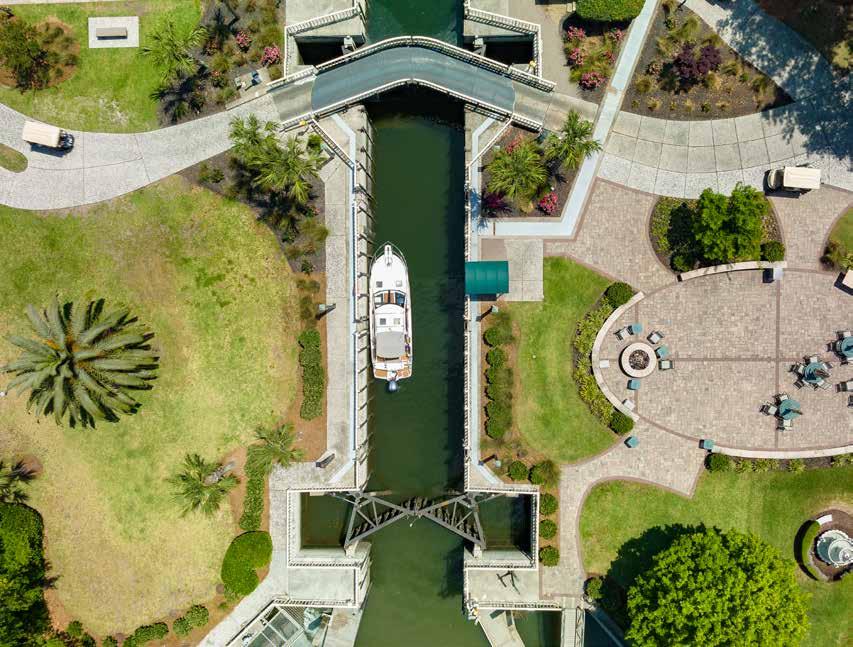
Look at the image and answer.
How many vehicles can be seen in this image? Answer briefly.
two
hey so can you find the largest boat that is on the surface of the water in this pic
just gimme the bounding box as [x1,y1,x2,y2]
[370,241,413,391]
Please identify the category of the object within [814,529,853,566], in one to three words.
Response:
fountain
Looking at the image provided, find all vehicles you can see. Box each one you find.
[22,121,80,158]
[764,168,821,195]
